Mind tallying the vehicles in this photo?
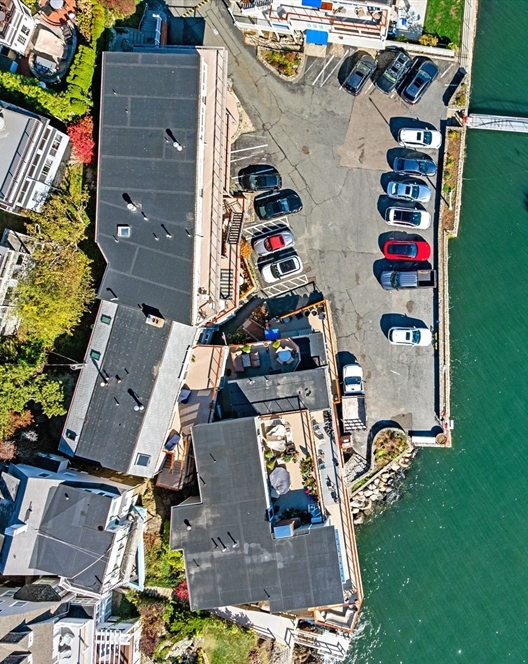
15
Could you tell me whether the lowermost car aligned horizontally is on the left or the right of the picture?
right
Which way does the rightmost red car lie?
horizontally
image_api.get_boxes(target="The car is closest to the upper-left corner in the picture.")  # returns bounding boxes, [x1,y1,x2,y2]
[238,170,285,193]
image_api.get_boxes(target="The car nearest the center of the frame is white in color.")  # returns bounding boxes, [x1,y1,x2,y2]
[260,256,304,282]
